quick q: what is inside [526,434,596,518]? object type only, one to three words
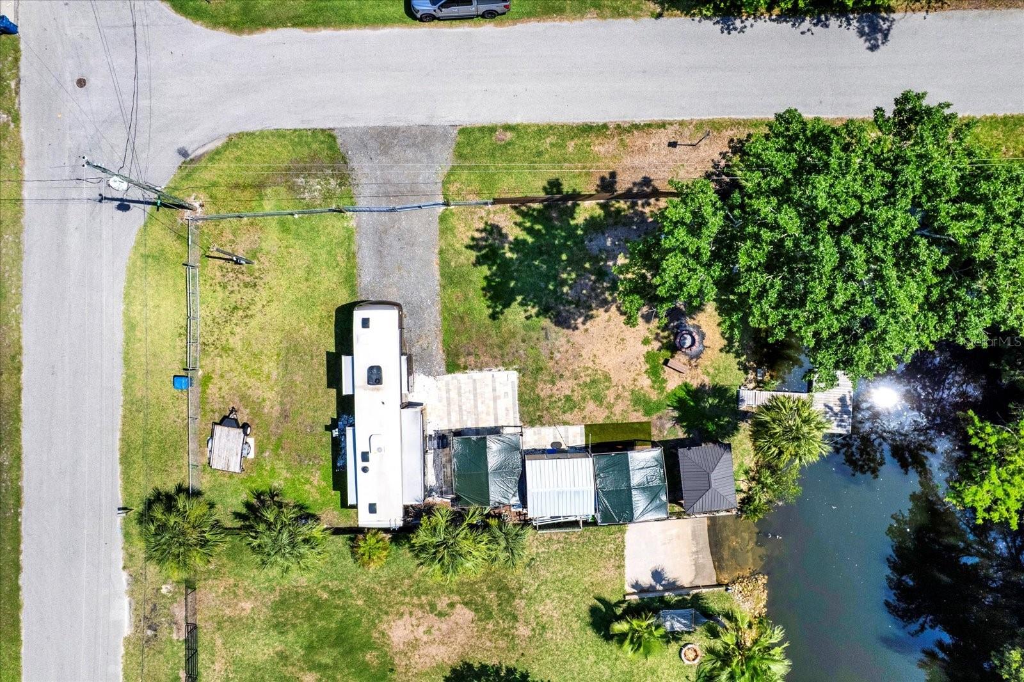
shed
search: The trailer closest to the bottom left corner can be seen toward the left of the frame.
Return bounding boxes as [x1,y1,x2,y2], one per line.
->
[206,401,250,474]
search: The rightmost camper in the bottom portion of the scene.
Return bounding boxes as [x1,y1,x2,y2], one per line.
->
[342,306,430,531]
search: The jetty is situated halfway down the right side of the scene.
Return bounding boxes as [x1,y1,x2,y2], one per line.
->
[738,375,855,435]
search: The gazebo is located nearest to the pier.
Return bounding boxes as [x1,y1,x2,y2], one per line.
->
[671,440,737,514]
